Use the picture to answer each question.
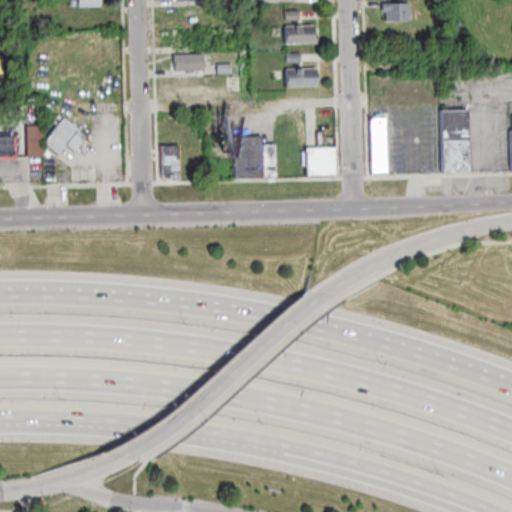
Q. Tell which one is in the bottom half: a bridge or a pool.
bridge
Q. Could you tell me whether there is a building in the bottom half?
No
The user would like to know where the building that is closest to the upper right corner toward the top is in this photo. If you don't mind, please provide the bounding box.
[382,2,410,21]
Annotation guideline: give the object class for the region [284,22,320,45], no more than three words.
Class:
house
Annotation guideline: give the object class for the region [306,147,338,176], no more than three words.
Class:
building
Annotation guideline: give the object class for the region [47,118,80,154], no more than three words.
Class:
building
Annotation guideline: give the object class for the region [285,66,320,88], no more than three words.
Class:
house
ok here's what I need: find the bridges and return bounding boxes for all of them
[112,293,344,464]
